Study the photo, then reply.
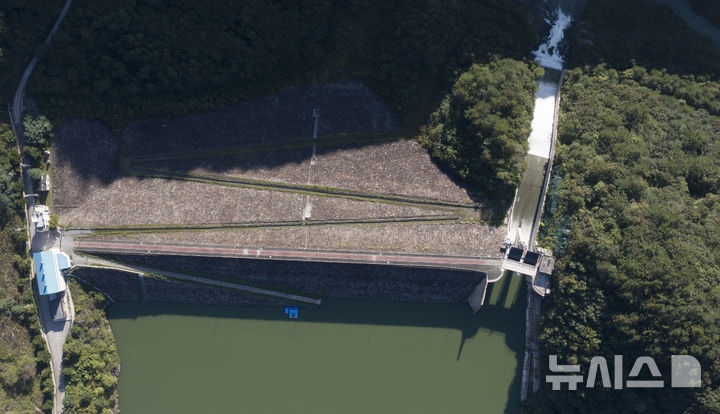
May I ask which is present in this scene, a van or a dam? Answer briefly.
dam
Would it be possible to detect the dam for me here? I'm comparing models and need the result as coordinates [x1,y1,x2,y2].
[53,84,507,312]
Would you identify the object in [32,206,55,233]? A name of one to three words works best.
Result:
building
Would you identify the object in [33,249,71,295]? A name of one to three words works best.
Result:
building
